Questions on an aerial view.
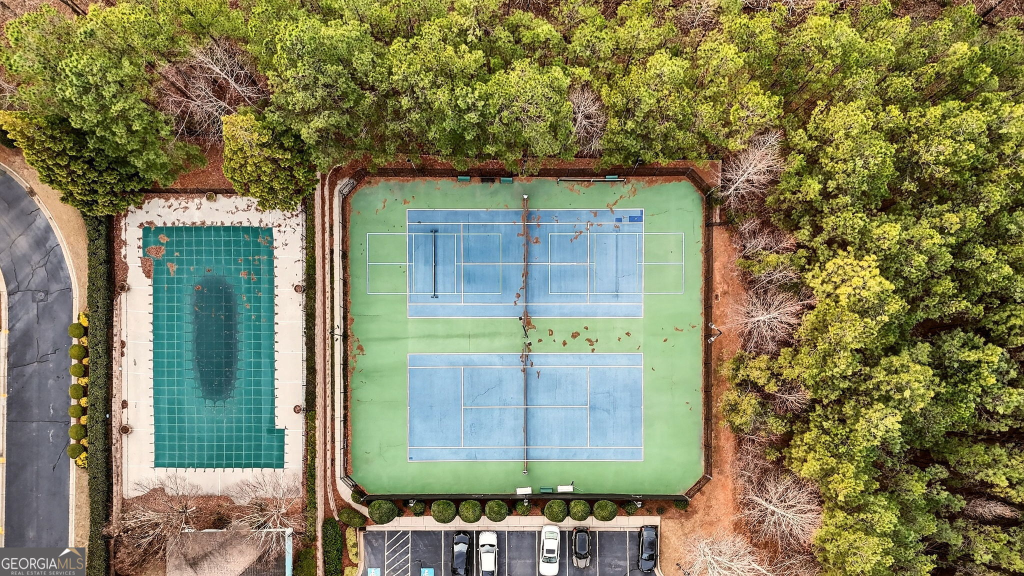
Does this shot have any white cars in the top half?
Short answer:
No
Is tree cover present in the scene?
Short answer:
Yes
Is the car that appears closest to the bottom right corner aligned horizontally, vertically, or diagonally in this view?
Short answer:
vertically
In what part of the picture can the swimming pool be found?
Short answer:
left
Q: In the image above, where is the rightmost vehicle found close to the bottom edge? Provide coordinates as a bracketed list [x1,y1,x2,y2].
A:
[639,526,661,573]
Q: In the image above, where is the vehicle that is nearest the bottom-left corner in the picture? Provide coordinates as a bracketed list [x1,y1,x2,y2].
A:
[449,531,471,576]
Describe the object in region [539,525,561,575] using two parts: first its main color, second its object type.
white car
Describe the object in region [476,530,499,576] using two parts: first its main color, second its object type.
white car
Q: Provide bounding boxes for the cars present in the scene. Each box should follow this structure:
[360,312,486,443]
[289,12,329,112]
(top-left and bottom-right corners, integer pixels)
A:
[449,531,471,576]
[539,525,561,575]
[639,526,661,573]
[571,527,593,568]
[476,530,499,576]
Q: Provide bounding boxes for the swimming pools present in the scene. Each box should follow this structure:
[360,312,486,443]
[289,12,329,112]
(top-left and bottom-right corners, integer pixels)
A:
[138,223,288,472]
